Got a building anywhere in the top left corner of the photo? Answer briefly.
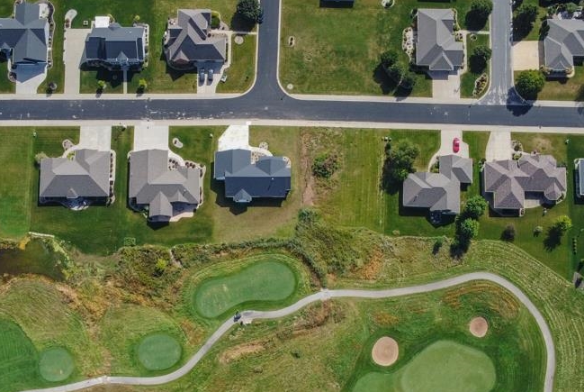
Yes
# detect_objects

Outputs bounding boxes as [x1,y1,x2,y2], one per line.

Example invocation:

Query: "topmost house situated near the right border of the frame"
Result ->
[542,19,584,71]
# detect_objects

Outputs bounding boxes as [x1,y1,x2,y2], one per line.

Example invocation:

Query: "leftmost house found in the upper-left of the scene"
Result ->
[0,0,48,63]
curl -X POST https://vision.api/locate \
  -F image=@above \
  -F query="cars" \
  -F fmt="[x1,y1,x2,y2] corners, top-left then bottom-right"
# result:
[451,137,459,152]
[207,68,214,82]
[198,68,205,83]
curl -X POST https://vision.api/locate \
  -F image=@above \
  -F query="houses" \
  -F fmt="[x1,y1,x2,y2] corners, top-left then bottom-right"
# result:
[417,8,465,71]
[168,9,226,63]
[129,149,199,216]
[484,154,566,208]
[542,19,584,71]
[0,0,48,63]
[214,148,291,202]
[39,148,110,198]
[403,153,473,213]
[82,23,144,63]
